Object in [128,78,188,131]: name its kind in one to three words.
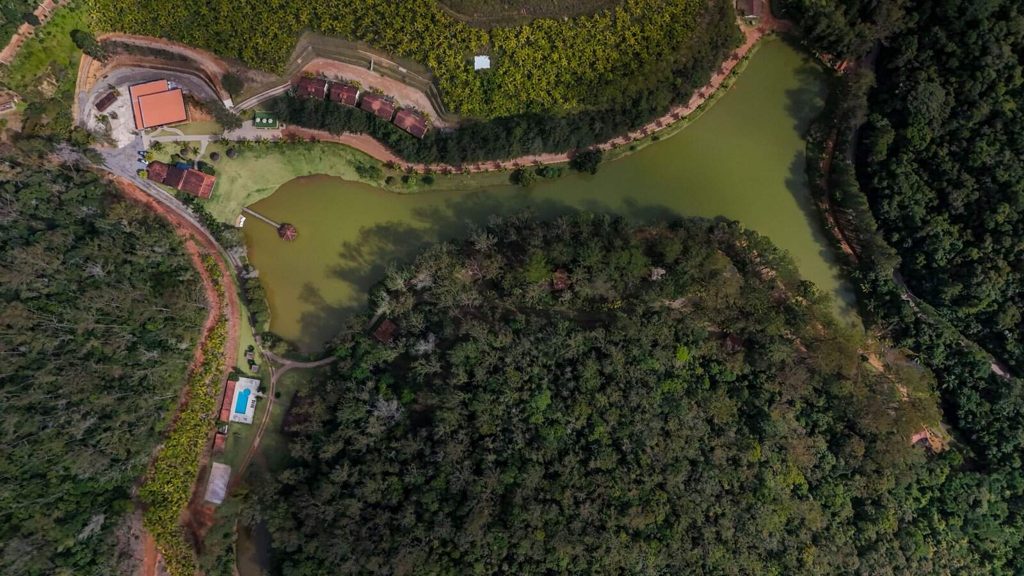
building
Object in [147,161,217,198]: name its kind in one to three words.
building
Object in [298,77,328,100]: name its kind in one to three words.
house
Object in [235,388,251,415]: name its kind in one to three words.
swimming pool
